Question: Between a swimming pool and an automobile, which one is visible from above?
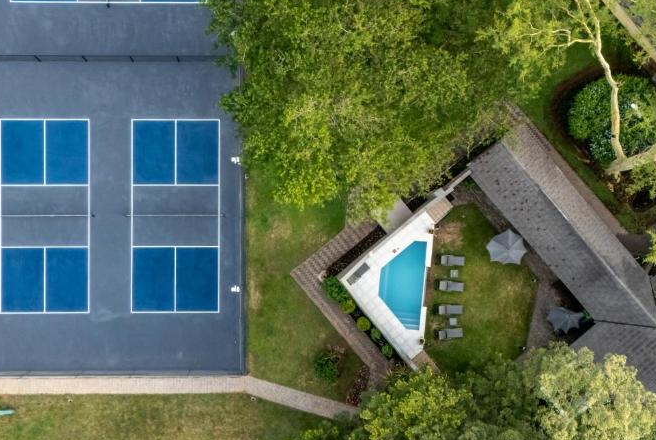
swimming pool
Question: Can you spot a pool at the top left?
No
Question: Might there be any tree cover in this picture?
Yes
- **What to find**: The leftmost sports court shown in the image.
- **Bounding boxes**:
[0,119,90,314]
